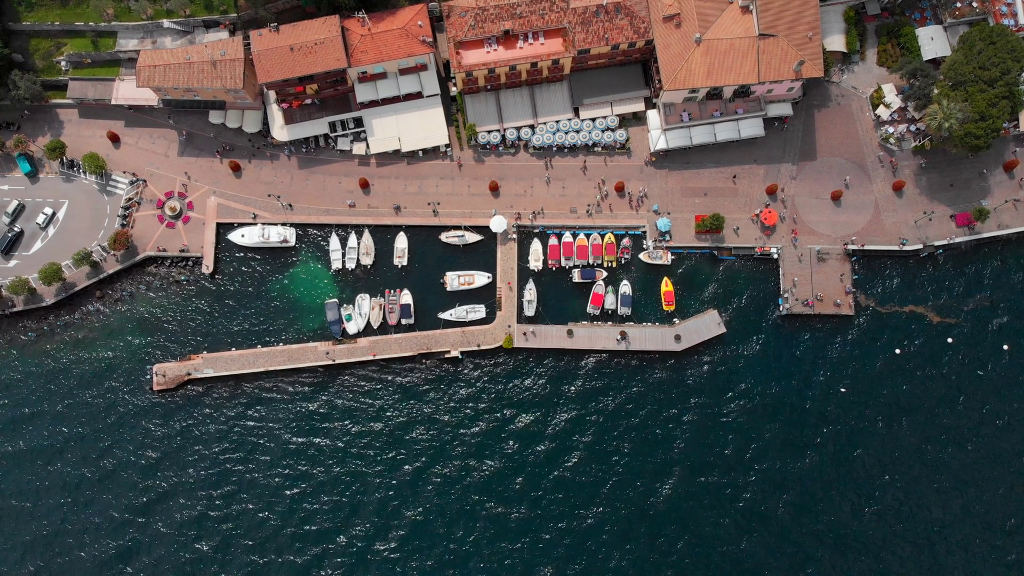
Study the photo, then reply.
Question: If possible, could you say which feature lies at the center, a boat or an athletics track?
boat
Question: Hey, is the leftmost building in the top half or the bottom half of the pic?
top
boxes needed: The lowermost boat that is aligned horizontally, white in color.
[437,305,487,329]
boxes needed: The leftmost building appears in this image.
[67,77,118,106]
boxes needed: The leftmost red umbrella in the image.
[759,208,777,226]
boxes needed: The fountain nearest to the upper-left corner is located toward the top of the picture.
[162,199,182,217]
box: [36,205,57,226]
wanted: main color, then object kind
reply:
white car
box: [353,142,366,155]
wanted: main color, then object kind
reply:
white umbrella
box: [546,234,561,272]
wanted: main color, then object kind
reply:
red boat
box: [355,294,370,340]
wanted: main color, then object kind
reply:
white boat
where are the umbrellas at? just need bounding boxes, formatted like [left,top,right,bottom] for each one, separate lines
[534,125,546,137]
[353,142,366,155]
[577,131,589,144]
[582,120,594,133]
[872,103,893,122]
[554,132,567,145]
[520,127,533,141]
[477,132,489,145]
[570,119,582,131]
[878,82,898,99]
[759,208,777,226]
[489,132,501,144]
[594,118,606,131]
[590,130,602,142]
[505,129,518,141]
[602,130,615,144]
[546,122,558,134]
[656,218,671,233]
[530,135,543,148]
[606,116,618,129]
[614,130,626,142]
[566,133,578,146]
[542,133,555,146]
[558,121,571,133]
[337,138,350,152]
[881,95,903,112]
[489,216,507,233]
